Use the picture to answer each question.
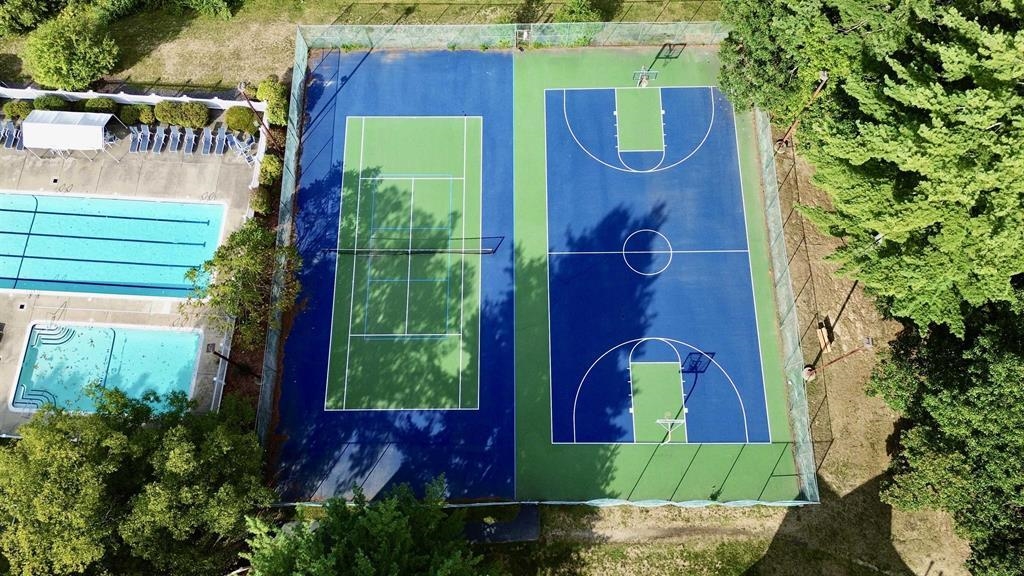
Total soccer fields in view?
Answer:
none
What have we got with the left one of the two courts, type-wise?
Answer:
tennis court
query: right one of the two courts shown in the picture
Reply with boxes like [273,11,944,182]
[513,48,799,500]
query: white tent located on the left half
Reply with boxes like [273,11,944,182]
[24,111,126,162]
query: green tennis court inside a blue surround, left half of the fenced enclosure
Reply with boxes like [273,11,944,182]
[271,48,515,500]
